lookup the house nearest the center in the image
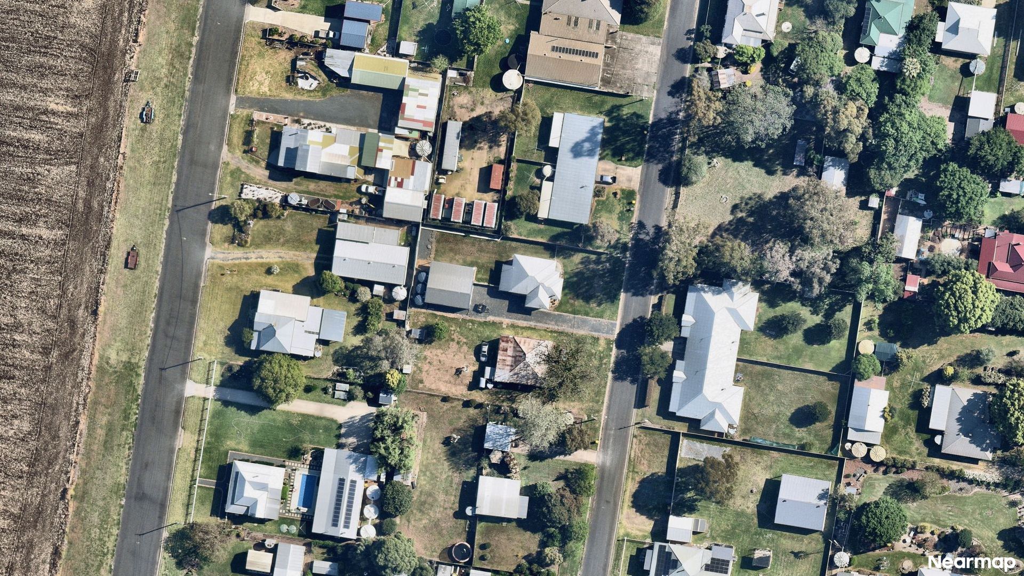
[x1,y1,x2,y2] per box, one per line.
[499,253,564,310]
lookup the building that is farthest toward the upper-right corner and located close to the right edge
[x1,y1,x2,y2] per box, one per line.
[940,2,998,55]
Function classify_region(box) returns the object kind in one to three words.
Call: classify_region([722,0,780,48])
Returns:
house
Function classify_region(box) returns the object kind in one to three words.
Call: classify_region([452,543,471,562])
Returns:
trampoline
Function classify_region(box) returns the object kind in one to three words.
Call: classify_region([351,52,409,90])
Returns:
shed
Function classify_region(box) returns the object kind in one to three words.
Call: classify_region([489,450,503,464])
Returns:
gazebo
